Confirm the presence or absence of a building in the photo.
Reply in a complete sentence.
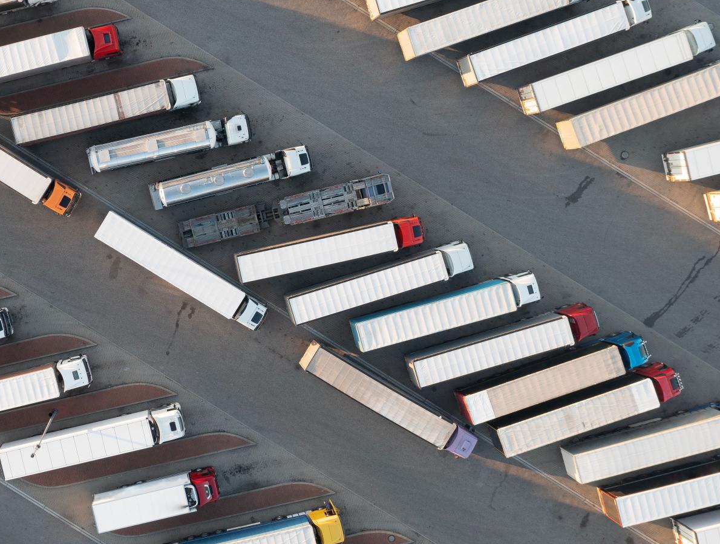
No, I can't see a single building in this photo.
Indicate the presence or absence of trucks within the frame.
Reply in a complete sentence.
Yes, a truck is visible in the scene.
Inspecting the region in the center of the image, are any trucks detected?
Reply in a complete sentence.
Yes, a truck can be seen in the center of the image.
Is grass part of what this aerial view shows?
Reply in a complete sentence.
No, there's no grass in this view.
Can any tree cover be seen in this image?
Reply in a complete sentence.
No, the scene doesn't show any tree cover.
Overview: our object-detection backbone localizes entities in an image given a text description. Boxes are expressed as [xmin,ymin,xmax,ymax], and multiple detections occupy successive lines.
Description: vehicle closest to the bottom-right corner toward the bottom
[674,507,720,544]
